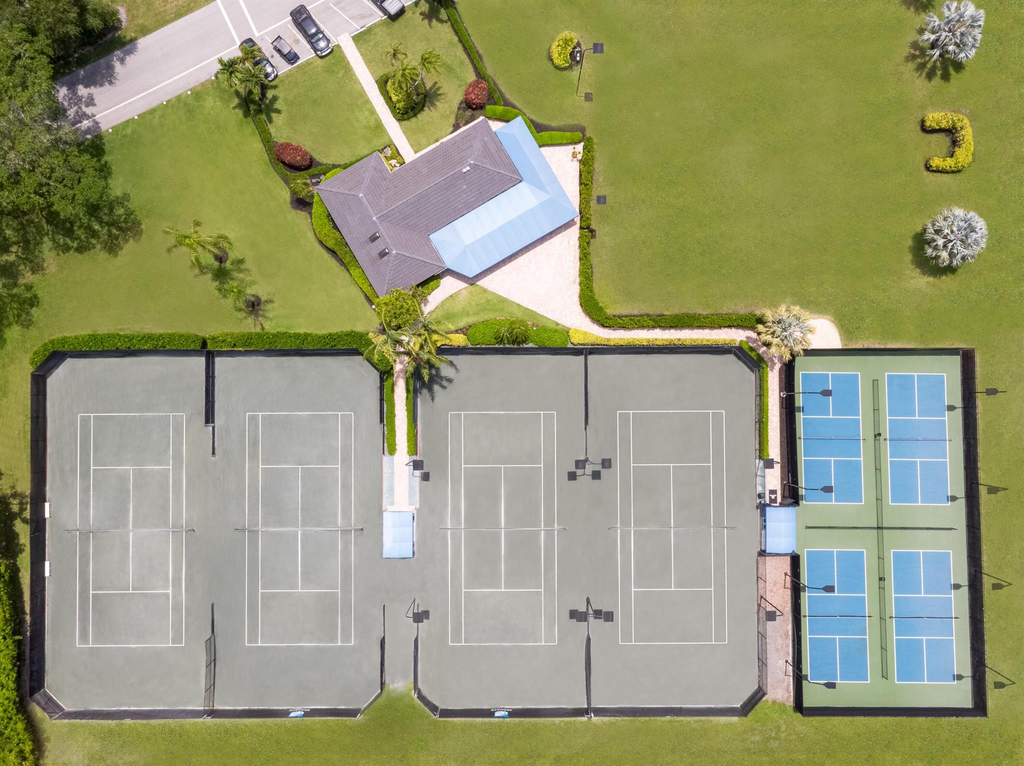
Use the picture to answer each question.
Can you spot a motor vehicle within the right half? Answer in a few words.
No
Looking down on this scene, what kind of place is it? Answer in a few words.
sports ground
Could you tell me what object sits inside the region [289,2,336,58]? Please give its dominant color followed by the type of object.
gray truck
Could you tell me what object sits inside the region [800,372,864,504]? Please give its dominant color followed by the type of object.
blue sports court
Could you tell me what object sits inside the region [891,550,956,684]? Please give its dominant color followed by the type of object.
blue sports court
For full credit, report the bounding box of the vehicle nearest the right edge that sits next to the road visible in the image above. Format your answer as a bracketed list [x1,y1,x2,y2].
[375,0,405,21]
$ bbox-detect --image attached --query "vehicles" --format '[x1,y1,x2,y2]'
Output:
[272,36,301,67]
[375,0,405,21]
[289,2,336,58]
[239,36,280,82]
